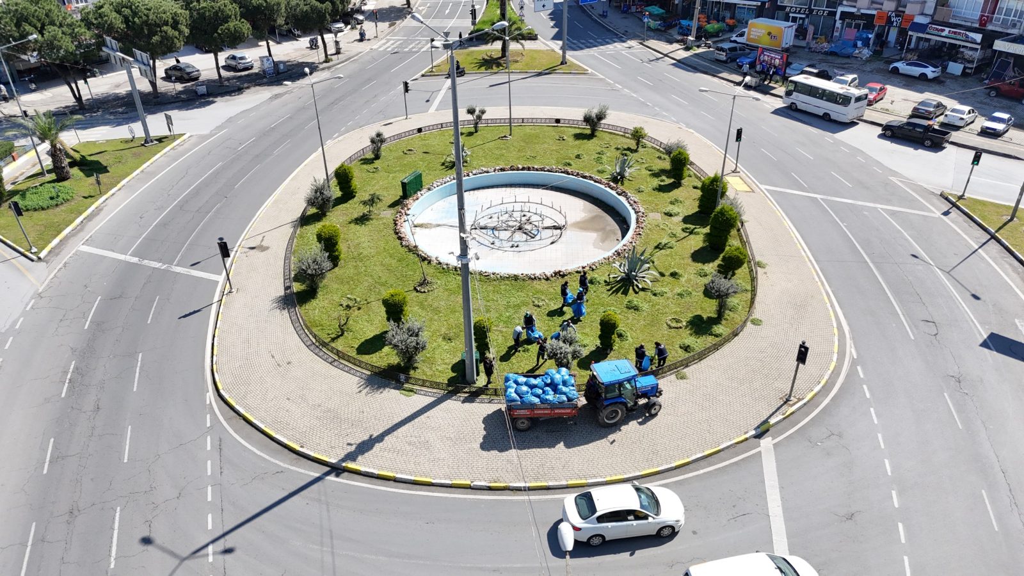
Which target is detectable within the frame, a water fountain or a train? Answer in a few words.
water fountain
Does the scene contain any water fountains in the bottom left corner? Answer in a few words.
No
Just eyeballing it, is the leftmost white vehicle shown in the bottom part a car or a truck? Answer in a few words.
car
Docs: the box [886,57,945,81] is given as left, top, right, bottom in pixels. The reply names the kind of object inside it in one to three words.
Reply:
car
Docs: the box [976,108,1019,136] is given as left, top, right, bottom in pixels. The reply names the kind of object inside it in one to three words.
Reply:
car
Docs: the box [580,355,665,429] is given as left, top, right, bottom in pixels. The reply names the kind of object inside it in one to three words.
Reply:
work vehicle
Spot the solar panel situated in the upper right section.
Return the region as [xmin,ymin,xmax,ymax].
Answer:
[989,53,1024,87]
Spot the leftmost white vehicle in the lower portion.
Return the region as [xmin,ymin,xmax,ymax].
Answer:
[560,478,690,545]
